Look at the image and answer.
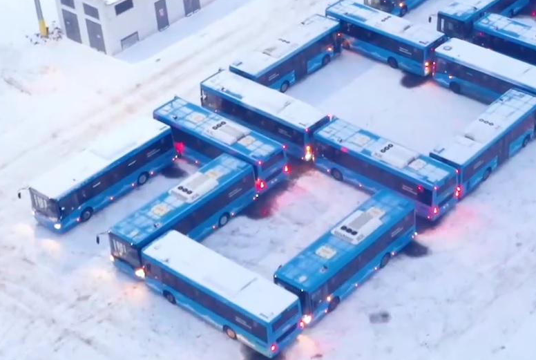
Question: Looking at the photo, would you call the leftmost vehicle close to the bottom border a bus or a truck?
bus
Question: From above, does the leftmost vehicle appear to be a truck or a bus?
bus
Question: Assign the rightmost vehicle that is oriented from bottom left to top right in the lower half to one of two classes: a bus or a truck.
bus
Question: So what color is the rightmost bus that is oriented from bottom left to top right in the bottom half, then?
blue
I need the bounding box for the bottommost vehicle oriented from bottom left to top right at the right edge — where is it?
[430,88,536,194]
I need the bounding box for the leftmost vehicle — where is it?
[21,120,173,228]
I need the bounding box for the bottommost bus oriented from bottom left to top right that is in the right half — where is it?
[265,192,414,321]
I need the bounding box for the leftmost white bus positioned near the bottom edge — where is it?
[132,227,300,352]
